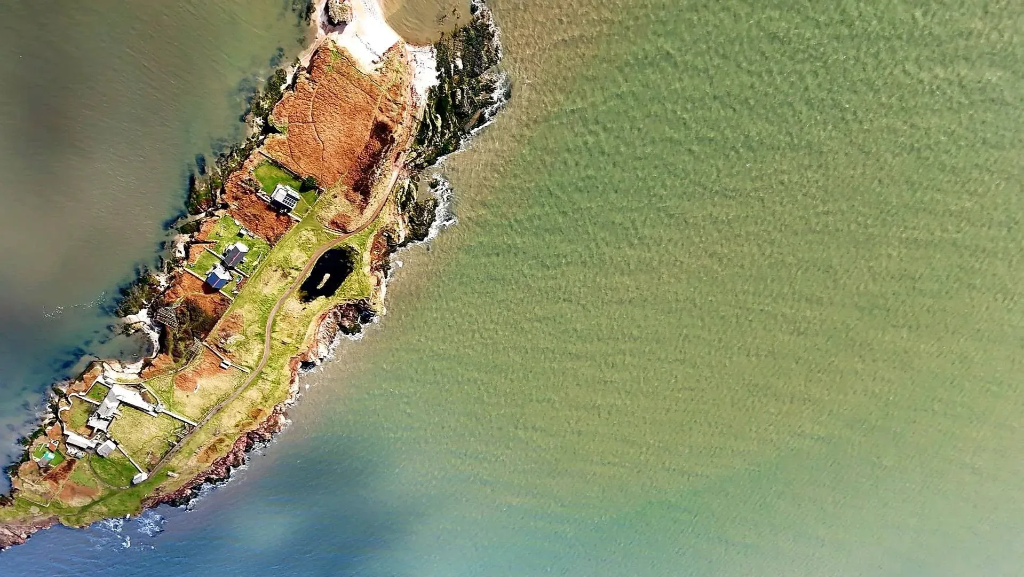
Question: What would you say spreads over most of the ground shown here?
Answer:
water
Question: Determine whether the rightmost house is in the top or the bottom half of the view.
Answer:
top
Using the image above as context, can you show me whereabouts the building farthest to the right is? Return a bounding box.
[270,188,300,214]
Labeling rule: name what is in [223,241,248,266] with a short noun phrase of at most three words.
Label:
house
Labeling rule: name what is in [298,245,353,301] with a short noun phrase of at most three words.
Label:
pond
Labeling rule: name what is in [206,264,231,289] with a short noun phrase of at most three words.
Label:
house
